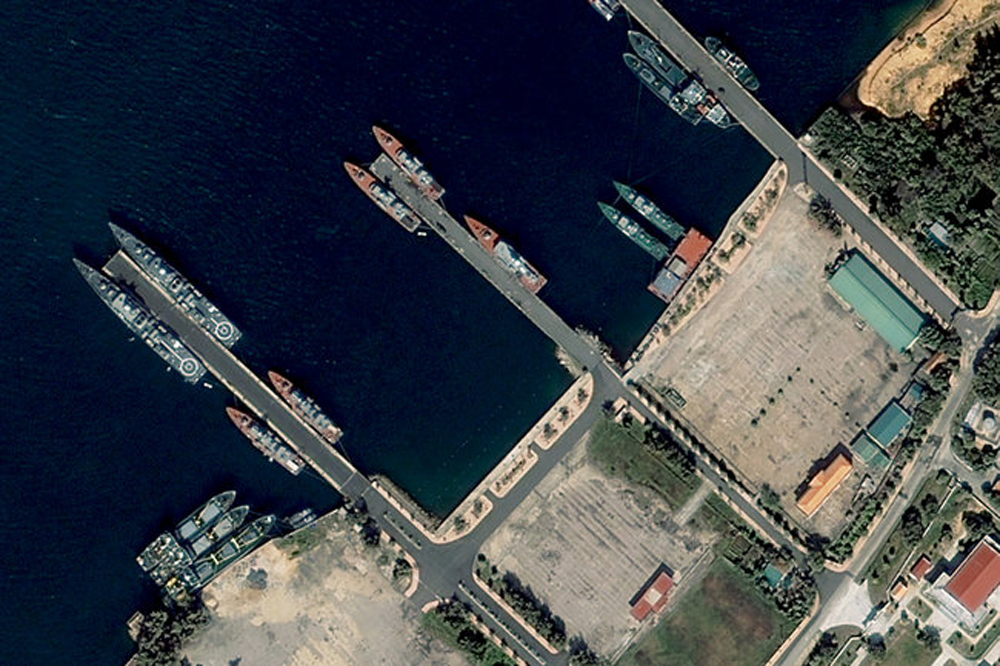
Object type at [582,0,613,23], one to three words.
boat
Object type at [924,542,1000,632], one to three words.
building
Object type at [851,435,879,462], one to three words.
shed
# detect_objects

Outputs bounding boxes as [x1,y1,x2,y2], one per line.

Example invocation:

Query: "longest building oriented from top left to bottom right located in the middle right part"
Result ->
[829,250,929,351]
